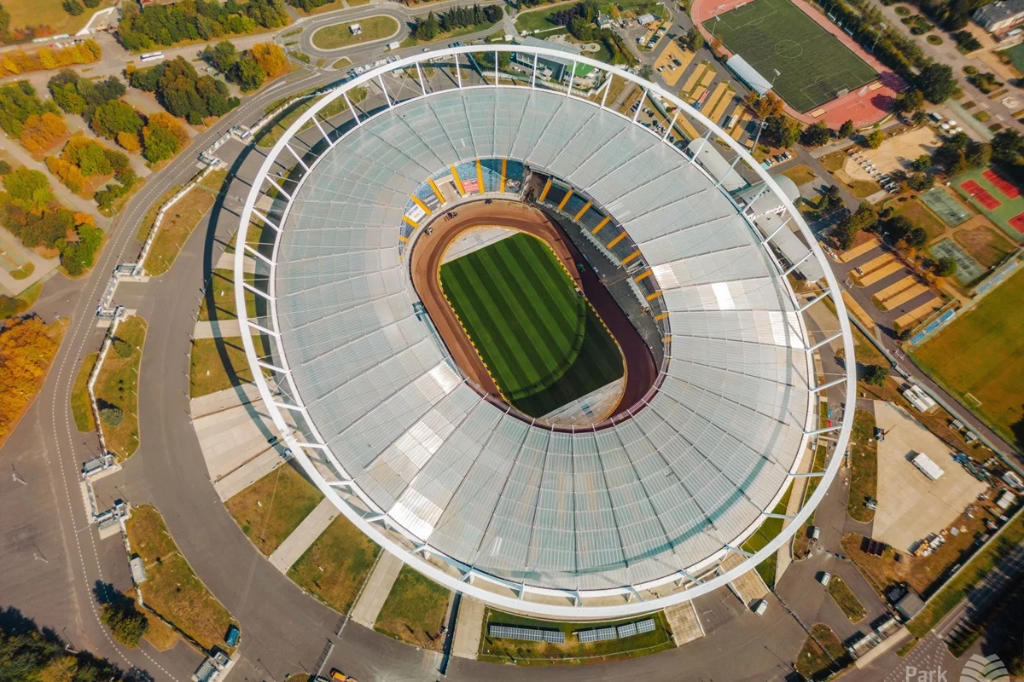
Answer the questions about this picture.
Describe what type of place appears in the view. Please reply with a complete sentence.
The area seen from above is a sports ground.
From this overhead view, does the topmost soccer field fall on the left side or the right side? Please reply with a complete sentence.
The topmost soccer field sits on the right side.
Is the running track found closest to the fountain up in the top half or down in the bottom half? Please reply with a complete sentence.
The top half of the photo is where the running track found closest to the fountain is.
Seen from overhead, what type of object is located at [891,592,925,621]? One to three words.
building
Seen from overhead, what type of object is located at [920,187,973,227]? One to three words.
tennis court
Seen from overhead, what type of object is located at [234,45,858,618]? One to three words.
stadium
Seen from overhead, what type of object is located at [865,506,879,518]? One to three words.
vehicle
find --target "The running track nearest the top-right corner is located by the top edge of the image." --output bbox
[687,0,907,129]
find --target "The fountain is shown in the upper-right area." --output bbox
[999,94,1022,110]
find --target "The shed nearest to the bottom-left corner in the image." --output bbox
[130,557,150,584]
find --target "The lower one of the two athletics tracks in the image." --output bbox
[410,197,662,446]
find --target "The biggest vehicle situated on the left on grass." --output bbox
[223,624,239,648]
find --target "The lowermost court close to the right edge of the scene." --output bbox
[930,239,986,282]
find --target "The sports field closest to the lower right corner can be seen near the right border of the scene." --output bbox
[917,271,1024,429]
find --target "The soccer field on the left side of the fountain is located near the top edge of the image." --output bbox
[701,0,881,113]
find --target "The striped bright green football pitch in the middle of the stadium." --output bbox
[441,226,625,429]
